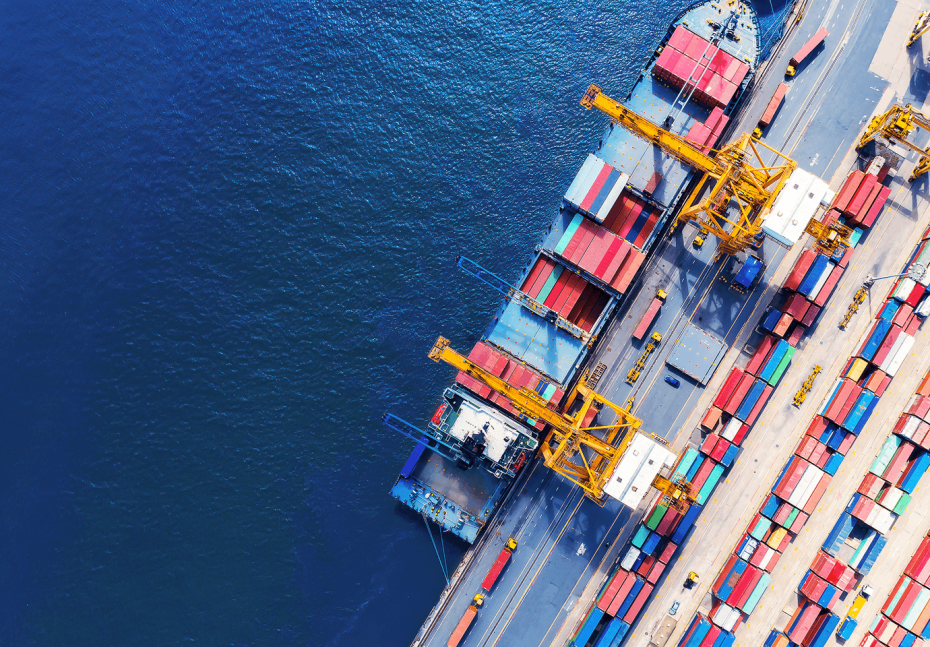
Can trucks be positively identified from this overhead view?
Yes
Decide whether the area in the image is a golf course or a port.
port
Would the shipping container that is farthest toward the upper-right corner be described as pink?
Yes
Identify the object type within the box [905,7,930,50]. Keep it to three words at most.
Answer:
container crane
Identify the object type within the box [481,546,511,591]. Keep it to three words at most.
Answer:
shipping container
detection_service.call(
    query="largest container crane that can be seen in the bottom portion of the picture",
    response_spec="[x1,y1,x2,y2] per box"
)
[429,336,708,521]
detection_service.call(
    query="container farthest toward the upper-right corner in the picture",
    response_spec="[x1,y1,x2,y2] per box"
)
[789,27,829,66]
